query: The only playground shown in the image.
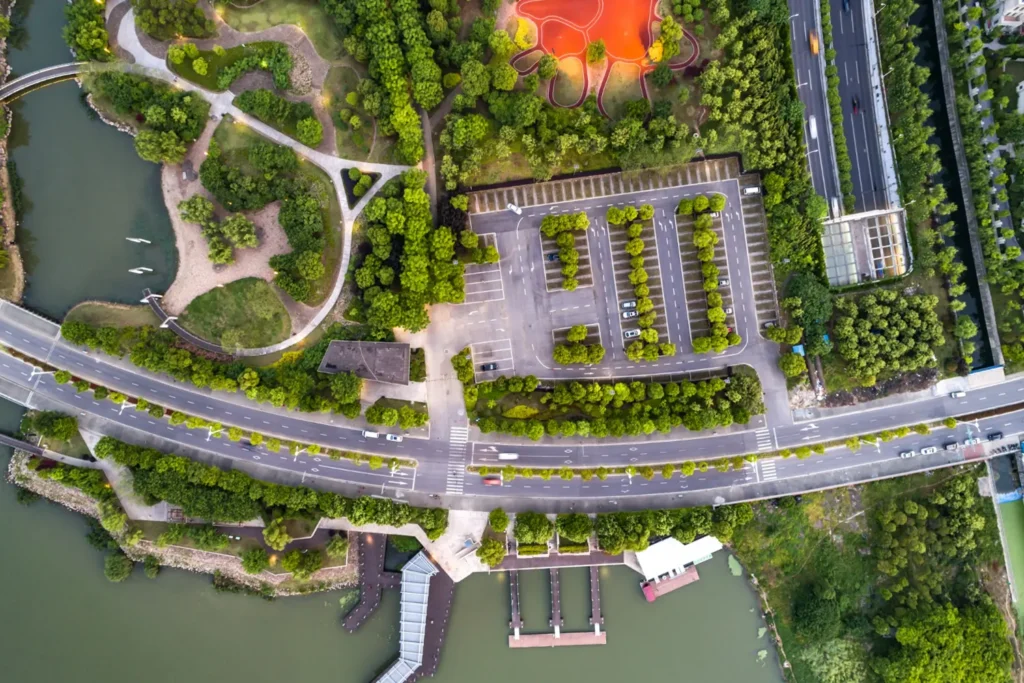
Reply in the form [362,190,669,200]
[506,0,700,128]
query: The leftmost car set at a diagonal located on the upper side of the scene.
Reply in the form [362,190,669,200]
[505,203,521,215]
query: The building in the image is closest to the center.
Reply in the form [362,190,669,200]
[317,339,411,389]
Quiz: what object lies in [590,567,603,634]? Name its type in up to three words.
pier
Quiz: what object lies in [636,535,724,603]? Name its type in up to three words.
building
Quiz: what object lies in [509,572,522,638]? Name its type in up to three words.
pier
